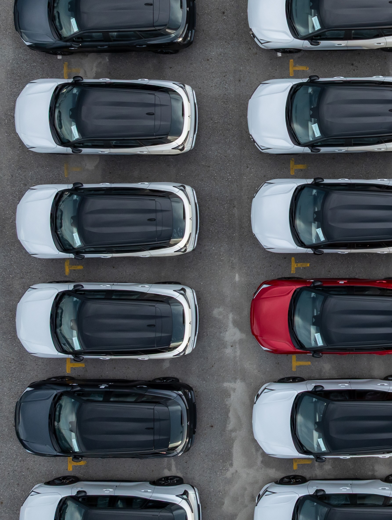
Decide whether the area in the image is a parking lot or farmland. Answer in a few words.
parking lot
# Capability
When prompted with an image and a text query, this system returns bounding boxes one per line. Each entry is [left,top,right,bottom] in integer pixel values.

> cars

[14,177,199,261]
[14,280,198,364]
[247,73,392,156]
[249,276,392,360]
[250,174,392,258]
[17,476,201,520]
[11,0,196,54]
[12,73,198,156]
[252,375,392,466]
[11,374,197,463]
[254,475,392,520]
[246,0,392,53]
